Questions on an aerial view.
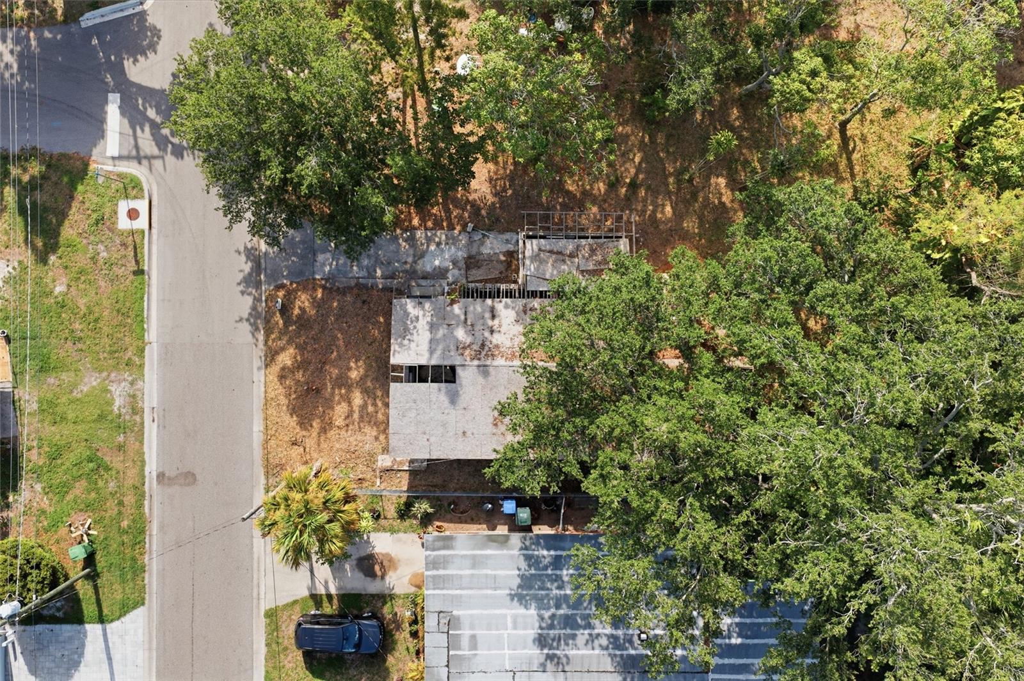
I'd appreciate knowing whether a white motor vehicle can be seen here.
No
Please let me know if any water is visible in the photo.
No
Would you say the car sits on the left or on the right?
left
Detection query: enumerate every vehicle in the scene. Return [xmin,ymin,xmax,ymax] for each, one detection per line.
[295,613,386,661]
